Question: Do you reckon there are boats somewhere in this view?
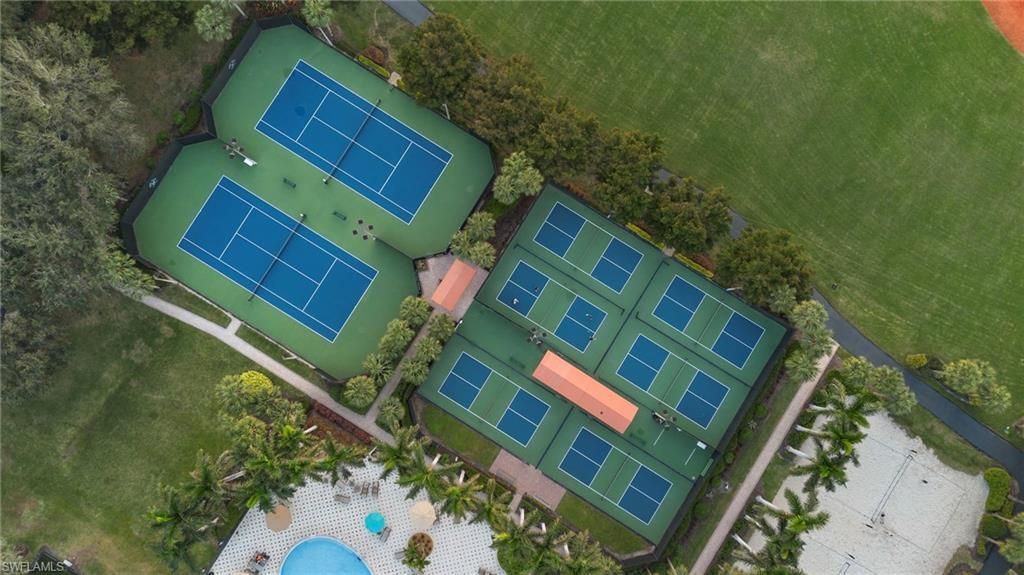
No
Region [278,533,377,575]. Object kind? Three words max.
swimming pool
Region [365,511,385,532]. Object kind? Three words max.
umbrella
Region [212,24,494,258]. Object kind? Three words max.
tennis court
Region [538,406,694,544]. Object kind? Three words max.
sports court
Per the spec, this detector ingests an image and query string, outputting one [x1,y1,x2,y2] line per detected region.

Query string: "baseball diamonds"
[425,0,1024,449]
